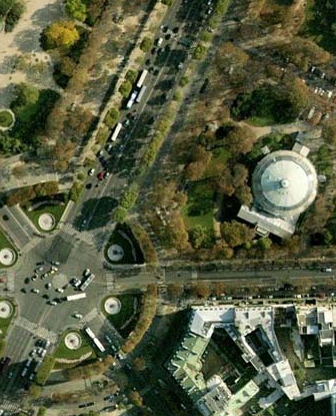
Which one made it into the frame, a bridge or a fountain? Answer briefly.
fountain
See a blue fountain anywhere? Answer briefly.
No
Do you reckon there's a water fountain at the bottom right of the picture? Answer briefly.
No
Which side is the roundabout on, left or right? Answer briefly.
left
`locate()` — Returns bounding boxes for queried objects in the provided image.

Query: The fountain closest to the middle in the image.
[107,243,125,262]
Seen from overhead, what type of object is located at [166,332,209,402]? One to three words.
building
